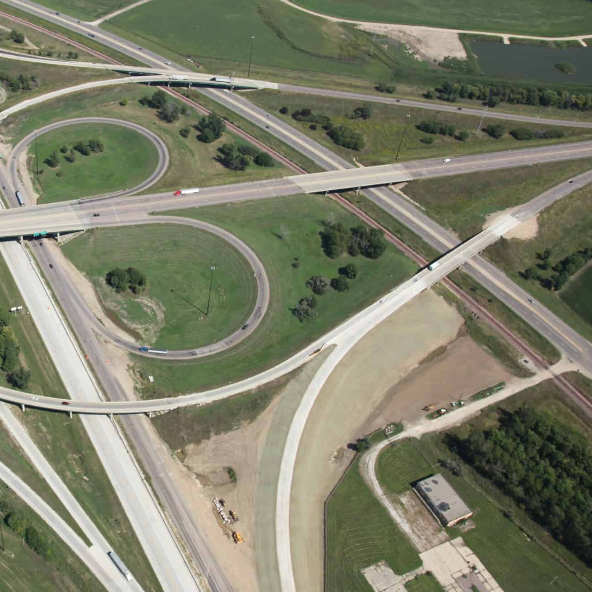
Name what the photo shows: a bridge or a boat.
bridge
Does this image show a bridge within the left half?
Yes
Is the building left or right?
right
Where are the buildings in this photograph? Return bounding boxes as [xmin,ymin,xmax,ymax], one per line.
[415,472,474,529]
